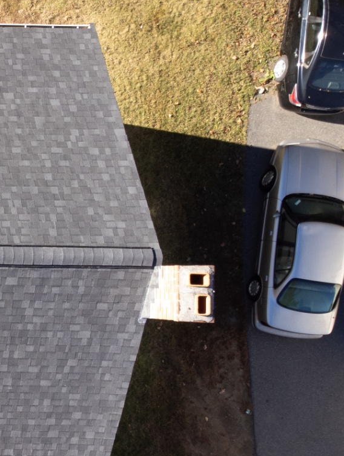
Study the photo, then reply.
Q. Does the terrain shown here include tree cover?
No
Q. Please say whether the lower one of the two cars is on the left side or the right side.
right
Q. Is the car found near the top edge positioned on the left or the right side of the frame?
right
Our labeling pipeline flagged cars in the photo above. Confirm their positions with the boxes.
[243,136,344,340]
[269,0,344,120]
